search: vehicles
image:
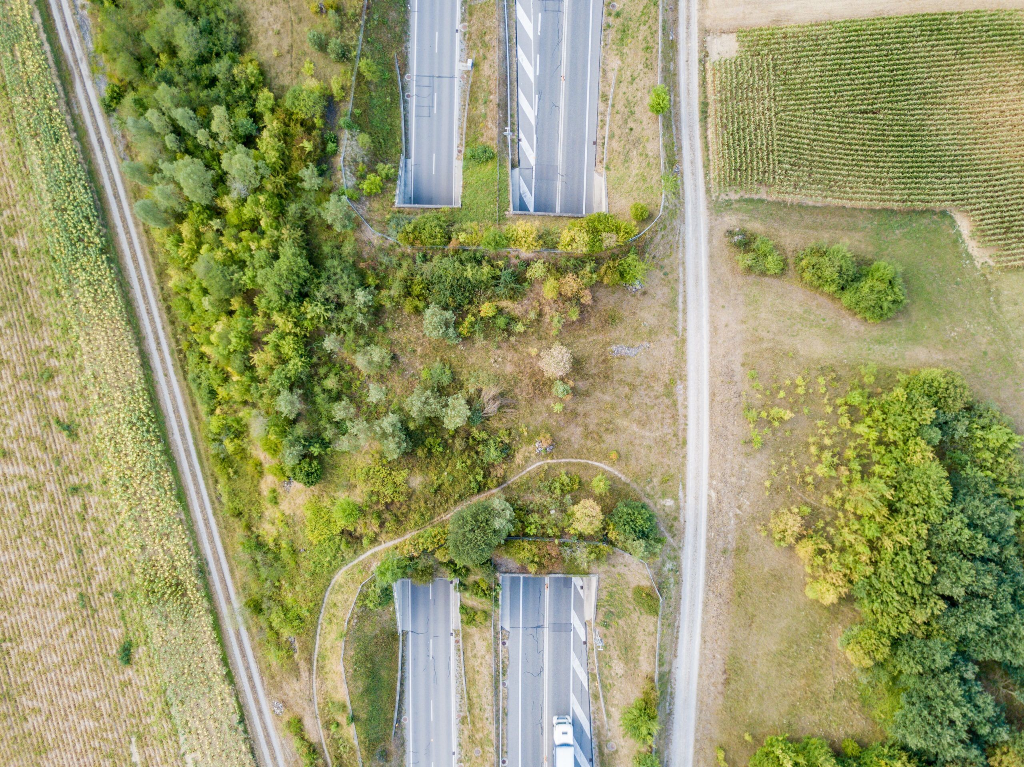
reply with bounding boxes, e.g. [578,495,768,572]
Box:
[552,713,575,767]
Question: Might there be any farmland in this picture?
Yes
